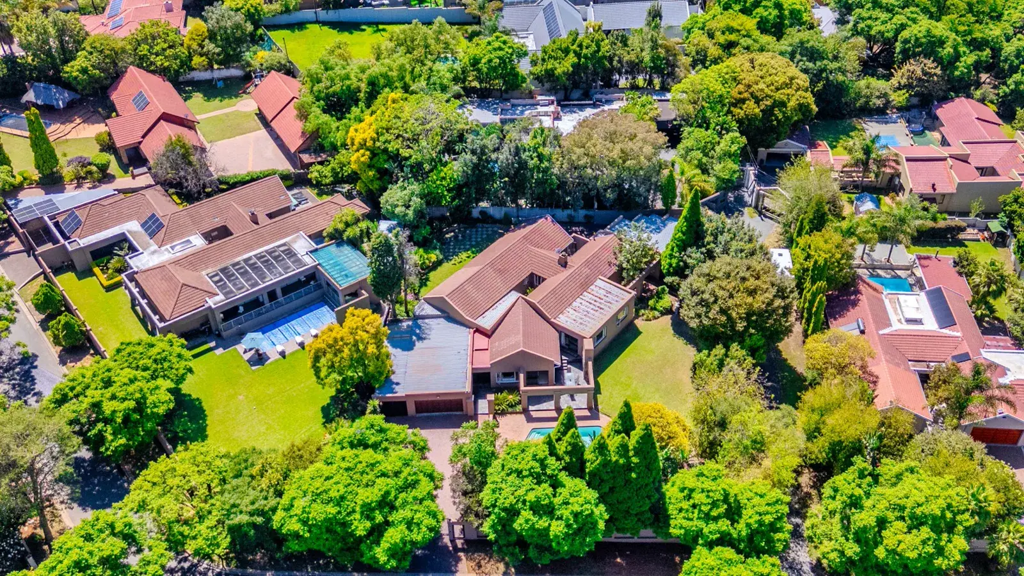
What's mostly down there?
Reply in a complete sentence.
What you mostly see from above here is trees.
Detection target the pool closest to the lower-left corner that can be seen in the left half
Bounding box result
[255,300,335,355]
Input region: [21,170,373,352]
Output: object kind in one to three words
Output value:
house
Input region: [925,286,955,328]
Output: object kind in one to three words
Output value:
solar panel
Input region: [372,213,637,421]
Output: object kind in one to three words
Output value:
house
